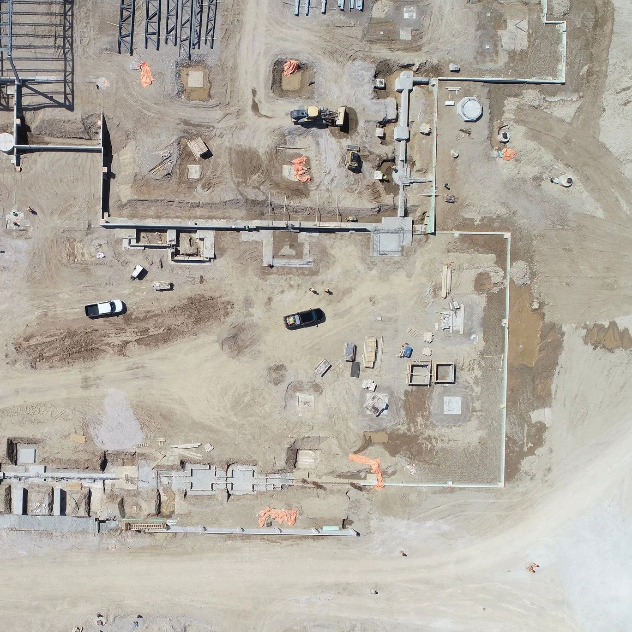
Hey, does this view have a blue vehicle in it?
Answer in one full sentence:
No, there is no blue vehicle in the image.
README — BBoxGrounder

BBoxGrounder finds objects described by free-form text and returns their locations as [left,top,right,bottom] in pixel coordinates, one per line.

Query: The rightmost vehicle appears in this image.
[346,144,362,169]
